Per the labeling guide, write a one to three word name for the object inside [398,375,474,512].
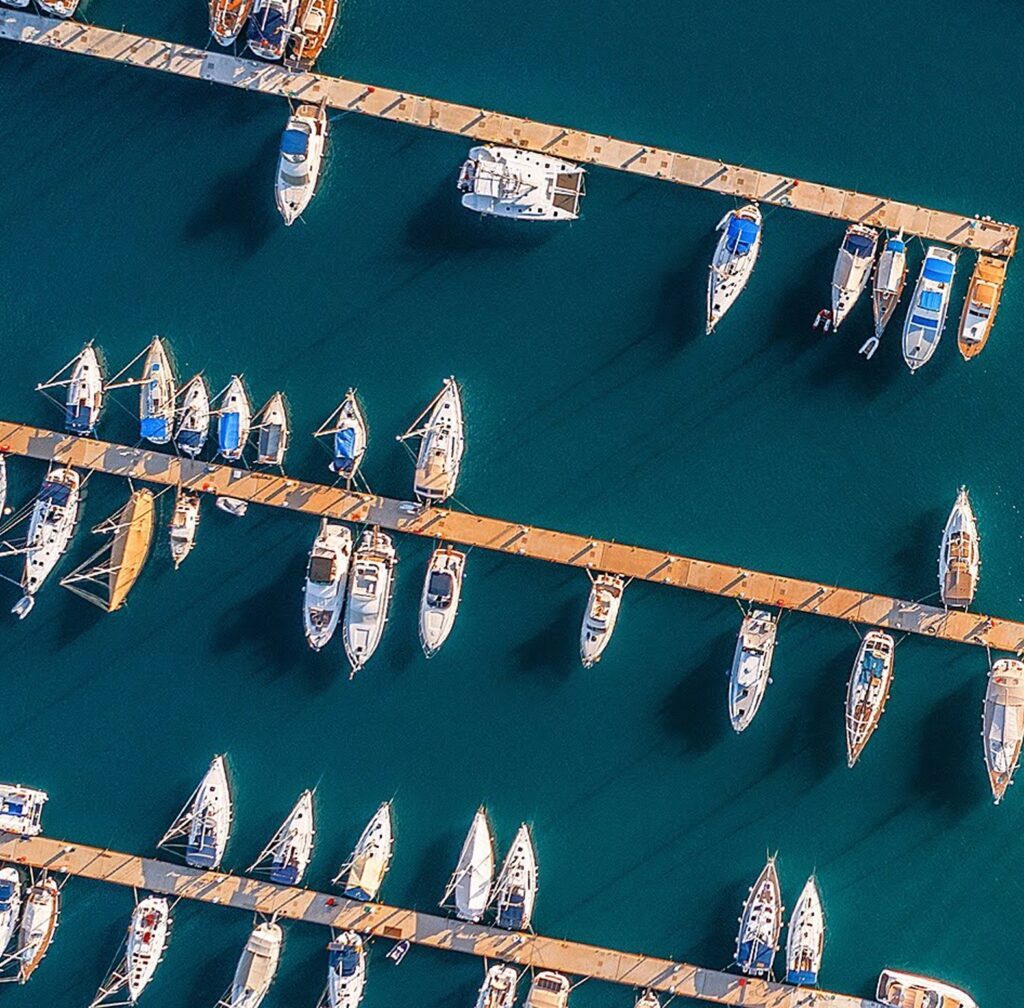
boat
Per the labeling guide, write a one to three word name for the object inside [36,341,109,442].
boat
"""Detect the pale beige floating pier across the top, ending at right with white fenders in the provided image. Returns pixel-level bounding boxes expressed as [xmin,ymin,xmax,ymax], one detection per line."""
[0,7,1019,256]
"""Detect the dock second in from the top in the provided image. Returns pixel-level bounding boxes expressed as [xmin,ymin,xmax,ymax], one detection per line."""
[0,421,1024,653]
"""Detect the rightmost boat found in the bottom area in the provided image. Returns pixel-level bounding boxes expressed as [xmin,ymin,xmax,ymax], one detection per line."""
[980,647,1024,807]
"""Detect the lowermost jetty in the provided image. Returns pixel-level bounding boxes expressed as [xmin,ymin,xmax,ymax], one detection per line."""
[0,829,904,1008]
